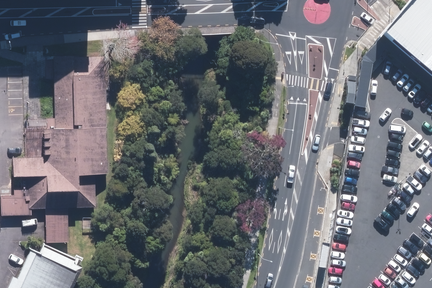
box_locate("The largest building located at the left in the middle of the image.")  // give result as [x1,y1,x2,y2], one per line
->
[0,57,108,243]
